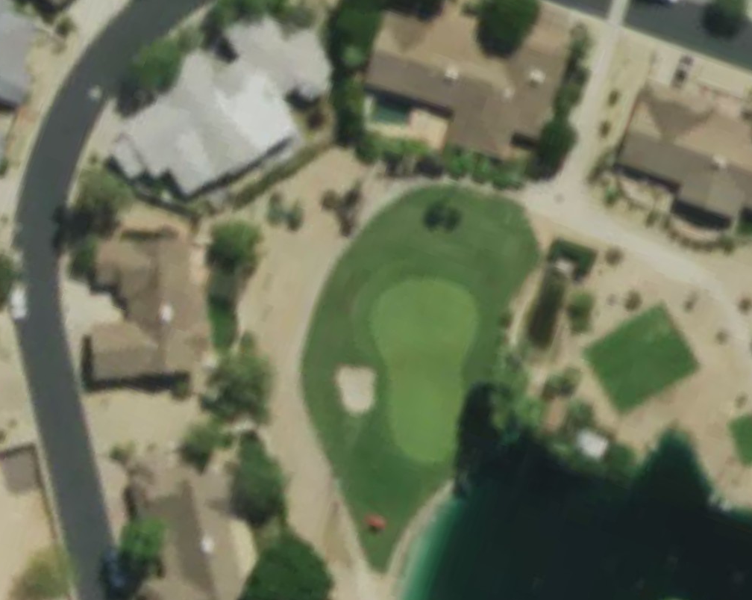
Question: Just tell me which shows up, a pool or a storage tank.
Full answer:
I can see a pool in this picture.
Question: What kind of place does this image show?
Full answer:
What you see here is a residential area.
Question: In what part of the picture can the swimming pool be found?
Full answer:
The swimming pool is in the top part of the image.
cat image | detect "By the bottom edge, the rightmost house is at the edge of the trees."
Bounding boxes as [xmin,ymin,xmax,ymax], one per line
[127,458,244,600]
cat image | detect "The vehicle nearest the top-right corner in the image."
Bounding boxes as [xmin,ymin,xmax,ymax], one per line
[673,57,688,86]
